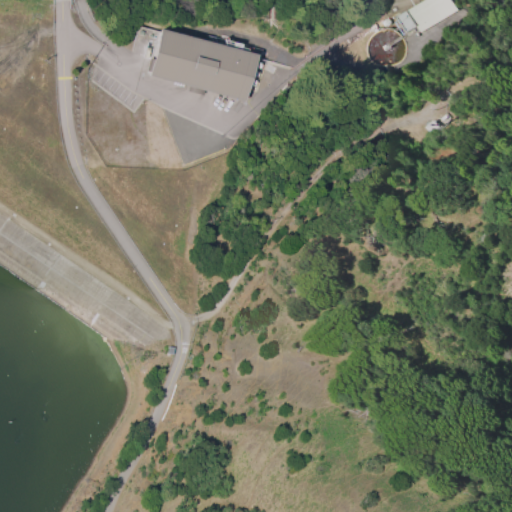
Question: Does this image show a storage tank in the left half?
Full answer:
No, no storage tank is visible in the left half.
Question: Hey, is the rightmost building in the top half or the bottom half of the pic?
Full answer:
Seen from above, the rightmost building lies in the top half of the view.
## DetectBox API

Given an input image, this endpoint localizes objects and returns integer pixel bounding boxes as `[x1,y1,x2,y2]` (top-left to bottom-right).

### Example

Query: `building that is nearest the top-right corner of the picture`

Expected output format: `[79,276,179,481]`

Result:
[408,0,458,32]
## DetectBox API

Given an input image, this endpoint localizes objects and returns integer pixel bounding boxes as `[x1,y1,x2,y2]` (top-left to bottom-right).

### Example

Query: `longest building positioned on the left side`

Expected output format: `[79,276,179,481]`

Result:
[149,30,260,98]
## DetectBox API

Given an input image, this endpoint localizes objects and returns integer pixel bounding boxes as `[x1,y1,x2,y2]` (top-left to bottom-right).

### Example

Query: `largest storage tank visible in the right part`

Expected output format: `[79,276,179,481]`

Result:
[368,27,407,66]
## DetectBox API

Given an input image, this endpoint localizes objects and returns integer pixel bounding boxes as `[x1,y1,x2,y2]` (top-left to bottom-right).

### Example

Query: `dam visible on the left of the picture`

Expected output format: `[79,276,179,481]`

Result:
[0,202,177,346]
